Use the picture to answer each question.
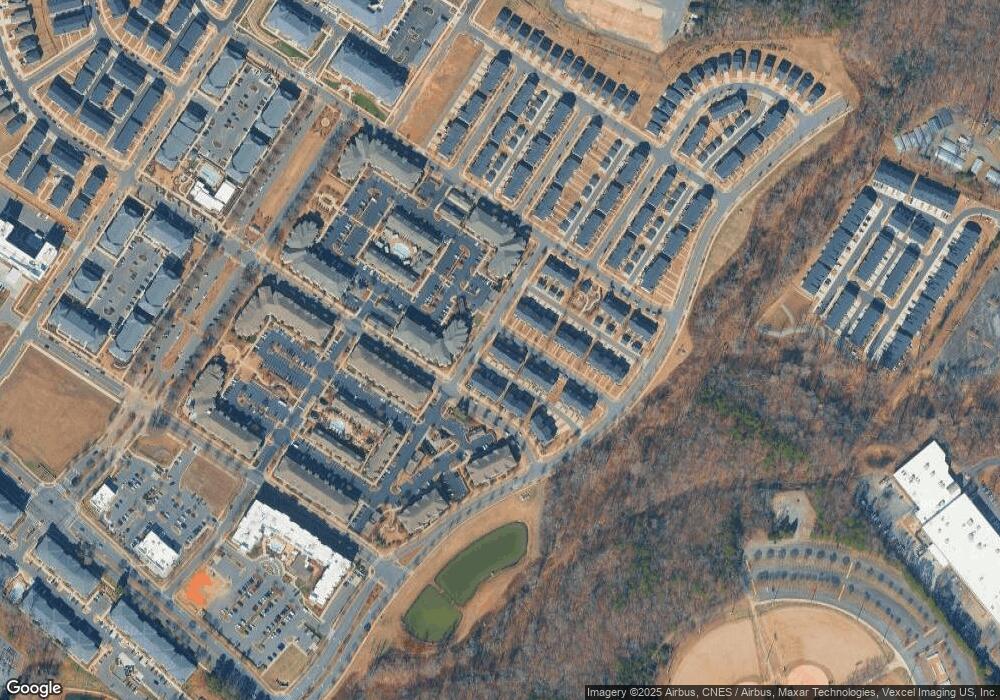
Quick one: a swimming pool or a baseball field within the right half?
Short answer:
baseball field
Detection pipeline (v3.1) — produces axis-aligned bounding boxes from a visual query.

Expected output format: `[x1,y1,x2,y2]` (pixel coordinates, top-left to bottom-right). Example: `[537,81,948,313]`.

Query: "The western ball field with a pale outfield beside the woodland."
[664,620,780,700]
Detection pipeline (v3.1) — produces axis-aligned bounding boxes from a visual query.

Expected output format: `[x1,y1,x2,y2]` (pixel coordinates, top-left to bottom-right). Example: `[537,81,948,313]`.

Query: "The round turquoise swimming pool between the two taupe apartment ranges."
[385,235,413,259]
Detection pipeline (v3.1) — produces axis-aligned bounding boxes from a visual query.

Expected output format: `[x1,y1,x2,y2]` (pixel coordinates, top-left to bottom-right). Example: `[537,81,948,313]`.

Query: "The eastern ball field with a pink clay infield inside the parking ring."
[757,603,910,700]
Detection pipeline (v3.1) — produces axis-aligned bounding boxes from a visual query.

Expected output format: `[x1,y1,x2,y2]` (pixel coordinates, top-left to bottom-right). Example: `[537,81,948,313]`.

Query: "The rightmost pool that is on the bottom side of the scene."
[324,417,349,436]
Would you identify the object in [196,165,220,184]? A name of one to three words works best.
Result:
swimming pool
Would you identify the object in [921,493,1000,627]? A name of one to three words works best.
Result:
building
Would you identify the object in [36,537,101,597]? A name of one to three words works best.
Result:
building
